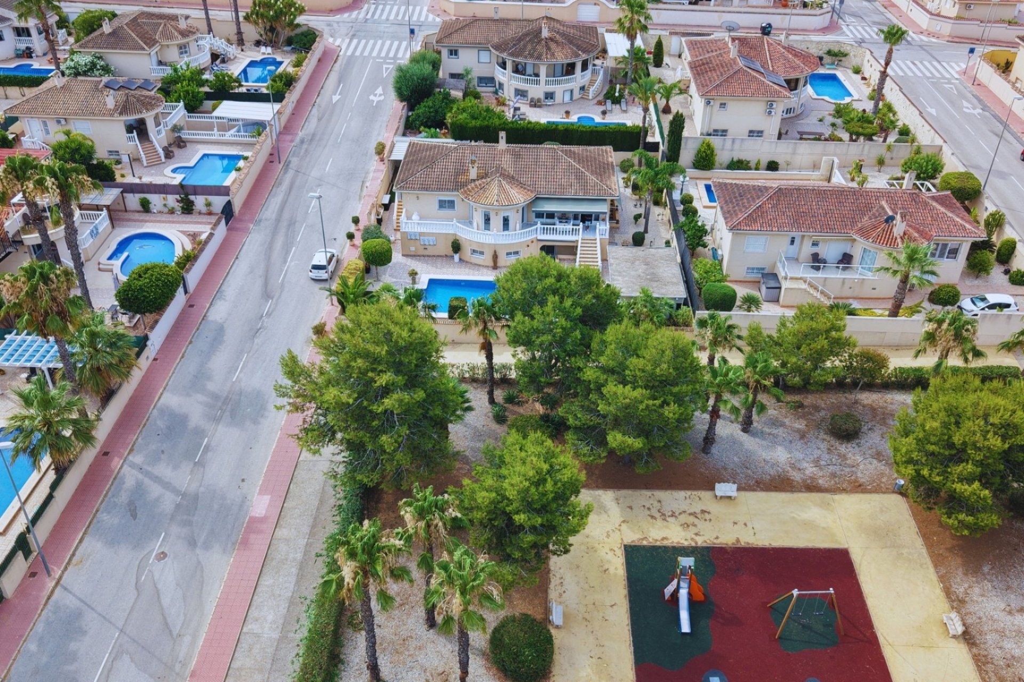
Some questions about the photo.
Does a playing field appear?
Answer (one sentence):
No, this view has no playing field in it.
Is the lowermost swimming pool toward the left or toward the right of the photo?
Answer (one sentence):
You can find the lowermost swimming pool on the left side of the picture.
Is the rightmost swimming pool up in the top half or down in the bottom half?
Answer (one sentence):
You can find the rightmost swimming pool in the top half.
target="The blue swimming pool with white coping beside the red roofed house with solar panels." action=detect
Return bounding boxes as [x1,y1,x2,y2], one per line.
[808,70,862,101]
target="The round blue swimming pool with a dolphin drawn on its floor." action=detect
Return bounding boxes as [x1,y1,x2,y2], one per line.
[85,223,194,277]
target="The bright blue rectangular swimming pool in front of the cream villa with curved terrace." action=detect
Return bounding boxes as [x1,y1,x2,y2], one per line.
[412,274,531,321]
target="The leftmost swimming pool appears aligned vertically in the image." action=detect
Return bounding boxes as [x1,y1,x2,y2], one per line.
[0,418,48,548]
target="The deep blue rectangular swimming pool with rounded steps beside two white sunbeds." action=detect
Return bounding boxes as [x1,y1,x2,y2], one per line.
[238,55,287,84]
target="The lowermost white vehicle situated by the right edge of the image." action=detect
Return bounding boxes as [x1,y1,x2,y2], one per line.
[955,289,1022,316]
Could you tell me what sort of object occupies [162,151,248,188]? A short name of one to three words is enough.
swimming pool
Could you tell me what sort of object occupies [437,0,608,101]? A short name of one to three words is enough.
house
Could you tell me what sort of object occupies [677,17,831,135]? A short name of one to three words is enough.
house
